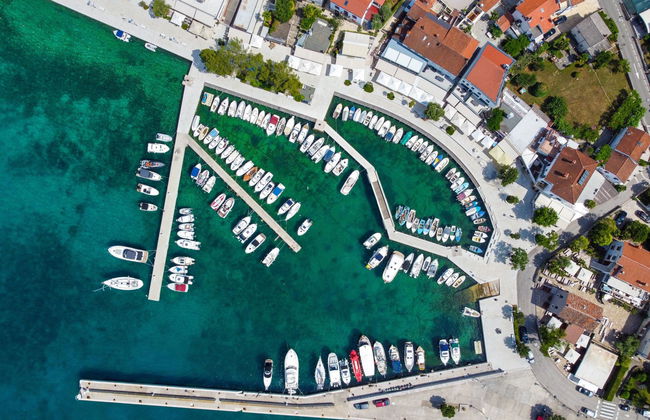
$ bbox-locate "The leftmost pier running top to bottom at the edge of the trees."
[148,62,204,301]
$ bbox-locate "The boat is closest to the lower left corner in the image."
[95,277,145,293]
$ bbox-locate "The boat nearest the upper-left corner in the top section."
[112,29,133,43]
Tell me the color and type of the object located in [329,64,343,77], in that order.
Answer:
white umbrella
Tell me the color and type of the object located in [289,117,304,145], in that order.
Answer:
white boat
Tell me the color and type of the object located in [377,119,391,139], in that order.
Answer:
white boat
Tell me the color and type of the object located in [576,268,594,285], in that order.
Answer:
white umbrella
